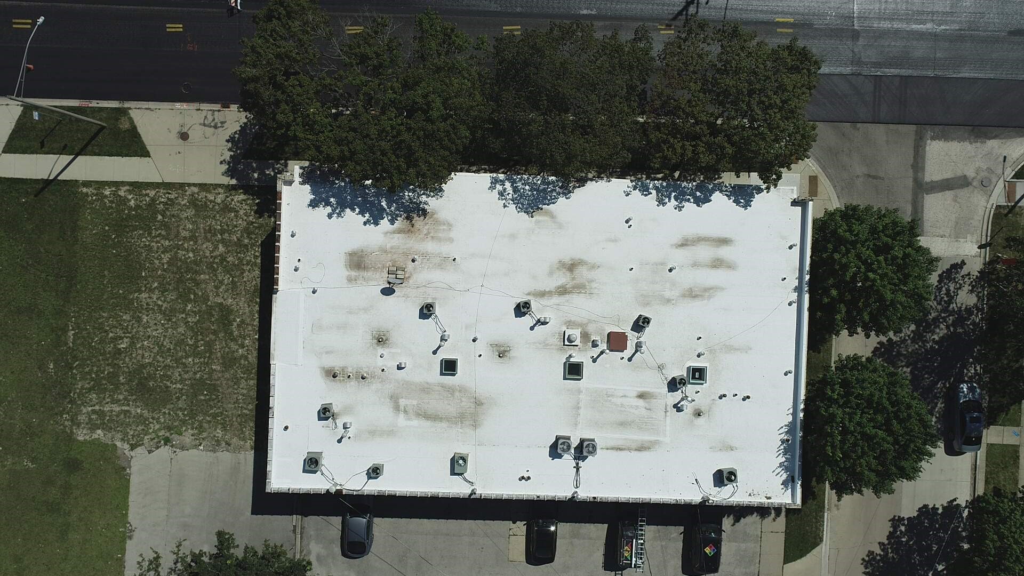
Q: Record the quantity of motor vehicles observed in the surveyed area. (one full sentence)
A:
The count of motor vehicles comes to 5.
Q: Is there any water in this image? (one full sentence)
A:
No, the scene doesn't show any water.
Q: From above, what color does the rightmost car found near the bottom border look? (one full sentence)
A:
From above, the rightmost car found near the bottom border appears black.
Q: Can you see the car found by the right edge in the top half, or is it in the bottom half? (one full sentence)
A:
You can find the car found by the right edge in the bottom half.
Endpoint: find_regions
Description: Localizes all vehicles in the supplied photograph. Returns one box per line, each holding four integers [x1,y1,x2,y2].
[526,500,560,564]
[610,502,644,568]
[947,381,987,453]
[343,494,376,559]
[688,504,726,574]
